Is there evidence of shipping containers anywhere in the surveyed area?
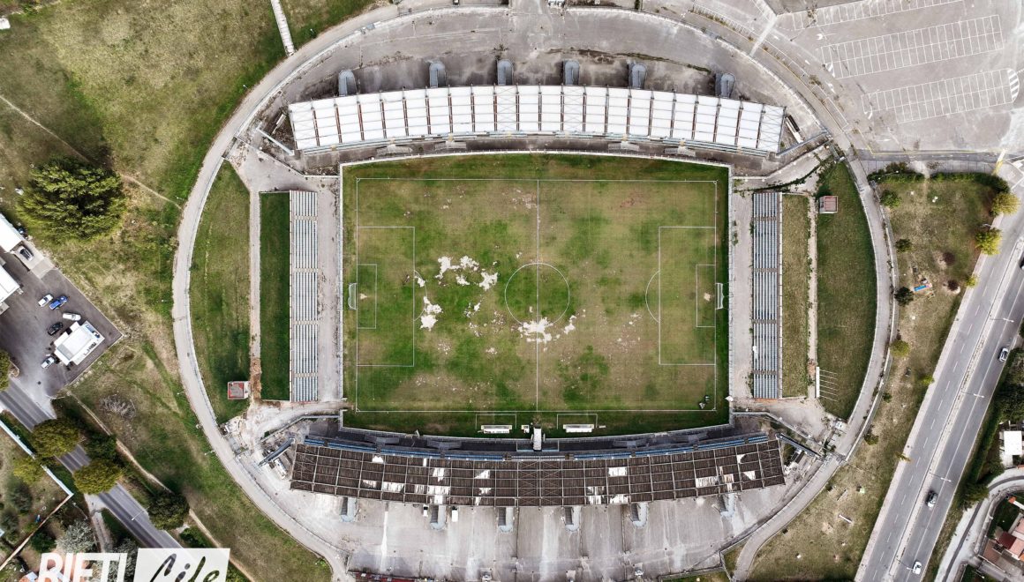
No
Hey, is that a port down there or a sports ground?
sports ground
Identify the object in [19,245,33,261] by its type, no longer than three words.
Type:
car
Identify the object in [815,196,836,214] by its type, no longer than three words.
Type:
shed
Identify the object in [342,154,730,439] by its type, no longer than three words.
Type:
soccer field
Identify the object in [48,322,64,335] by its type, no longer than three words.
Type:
vehicle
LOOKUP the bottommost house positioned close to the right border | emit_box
[991,510,1024,563]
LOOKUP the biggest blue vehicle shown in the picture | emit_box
[48,295,68,309]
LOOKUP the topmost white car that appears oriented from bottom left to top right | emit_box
[38,294,54,307]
